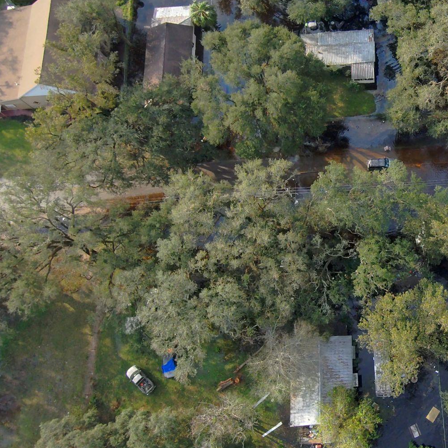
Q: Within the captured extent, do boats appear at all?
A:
No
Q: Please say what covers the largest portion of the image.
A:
trees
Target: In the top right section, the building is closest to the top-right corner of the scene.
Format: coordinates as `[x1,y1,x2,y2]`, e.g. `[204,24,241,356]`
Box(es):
[300,29,375,84]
